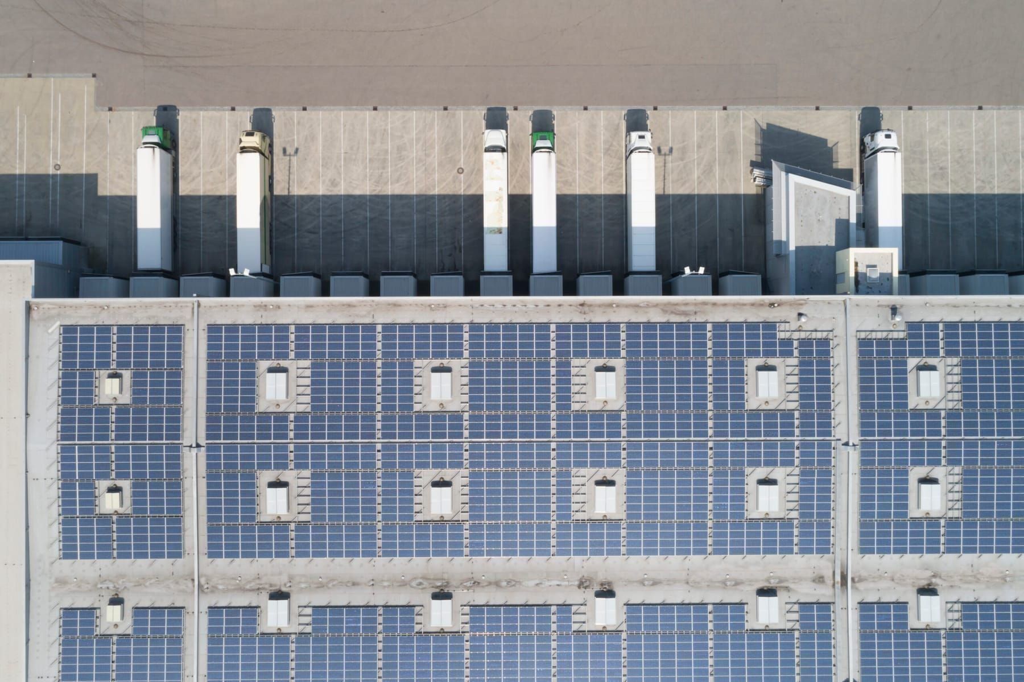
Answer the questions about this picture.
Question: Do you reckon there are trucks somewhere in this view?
Yes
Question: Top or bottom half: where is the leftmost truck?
top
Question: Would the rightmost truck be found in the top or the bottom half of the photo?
top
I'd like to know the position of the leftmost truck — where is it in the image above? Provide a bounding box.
[137,126,176,273]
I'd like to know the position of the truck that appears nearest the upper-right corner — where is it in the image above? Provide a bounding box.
[860,132,902,272]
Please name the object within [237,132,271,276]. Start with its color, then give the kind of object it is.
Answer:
white truck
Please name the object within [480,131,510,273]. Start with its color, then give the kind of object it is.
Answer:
white truck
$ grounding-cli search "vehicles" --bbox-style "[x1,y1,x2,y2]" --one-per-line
[137,126,176,273]
[860,132,902,272]
[528,131,558,274]
[237,132,271,276]
[624,133,655,274]
[480,131,510,273]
